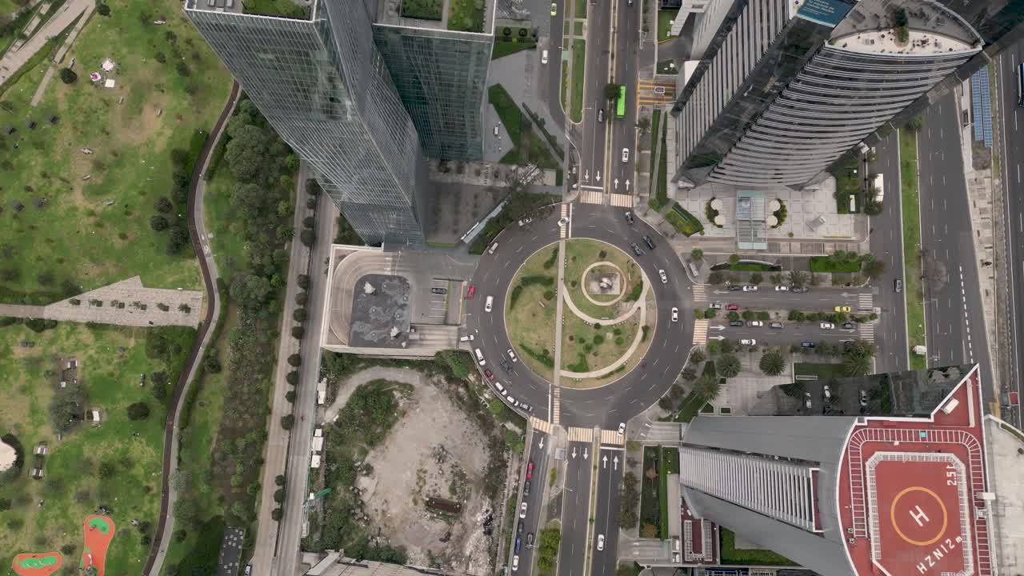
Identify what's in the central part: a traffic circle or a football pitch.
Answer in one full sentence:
The feature located in the central part is a traffic circle.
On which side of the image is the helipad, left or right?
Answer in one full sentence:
You can find the helipad on the right side of the picture.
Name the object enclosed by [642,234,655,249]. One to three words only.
vehicle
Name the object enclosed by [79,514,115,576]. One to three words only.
playground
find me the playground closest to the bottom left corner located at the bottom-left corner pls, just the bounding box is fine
[12,552,62,576]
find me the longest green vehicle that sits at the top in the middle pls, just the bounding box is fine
[614,87,627,119]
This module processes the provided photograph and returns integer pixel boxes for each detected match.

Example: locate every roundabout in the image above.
[459,192,708,446]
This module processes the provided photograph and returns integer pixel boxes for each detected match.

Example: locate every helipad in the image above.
[865,453,975,576]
